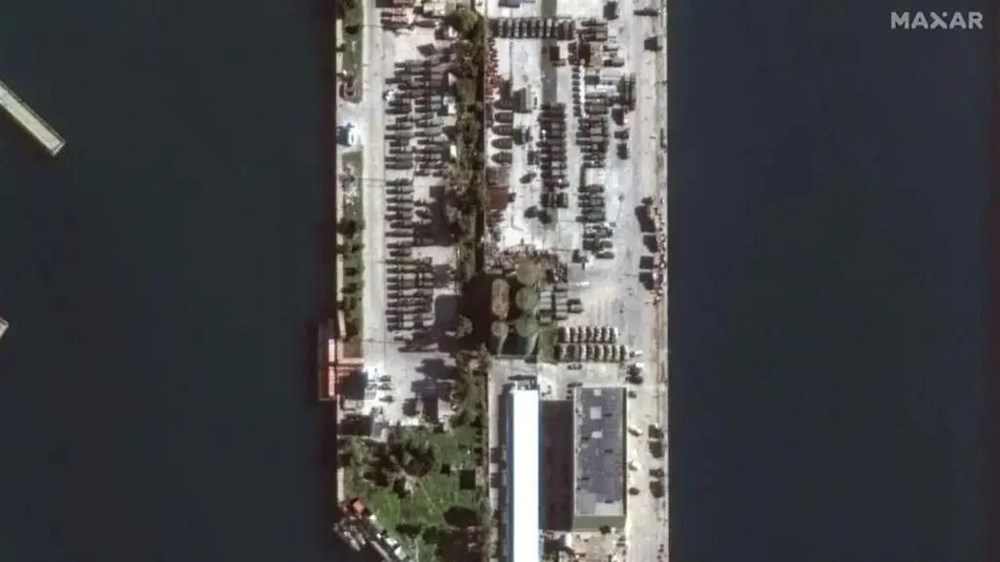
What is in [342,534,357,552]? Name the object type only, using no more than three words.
boat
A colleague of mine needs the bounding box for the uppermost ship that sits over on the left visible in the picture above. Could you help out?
[318,323,335,405]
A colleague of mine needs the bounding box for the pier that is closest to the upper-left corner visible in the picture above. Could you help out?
[0,82,67,157]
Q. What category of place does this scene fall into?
port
